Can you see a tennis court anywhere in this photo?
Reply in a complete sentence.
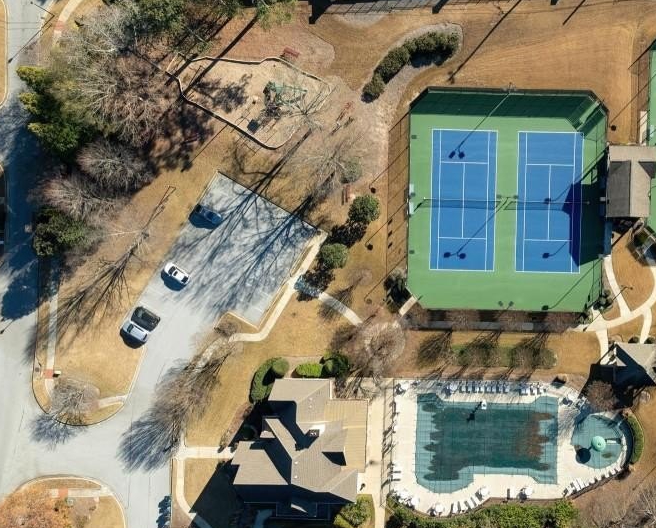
Yes, a tennis court appears in the view.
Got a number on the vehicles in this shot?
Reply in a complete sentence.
In total, there are 4 vehicles in the scene.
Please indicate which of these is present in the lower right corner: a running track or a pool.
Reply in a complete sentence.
Visible in the lower right corner is a pool.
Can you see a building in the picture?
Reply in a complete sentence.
Yes, a building appears in the view.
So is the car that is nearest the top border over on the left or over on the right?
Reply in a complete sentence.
The car that is nearest the top border sits on the left side.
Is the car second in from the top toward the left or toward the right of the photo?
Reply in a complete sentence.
The car second in from the top appears in the left half of the scene.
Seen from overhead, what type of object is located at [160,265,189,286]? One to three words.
car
